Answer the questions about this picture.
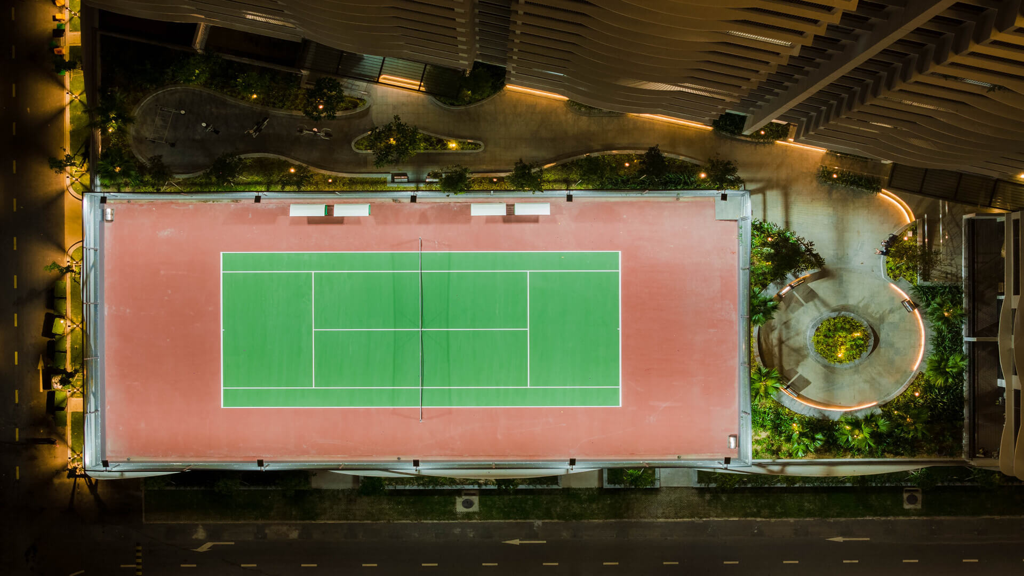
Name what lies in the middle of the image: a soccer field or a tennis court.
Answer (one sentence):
Looking in the middle of the image, you will find a tennis court.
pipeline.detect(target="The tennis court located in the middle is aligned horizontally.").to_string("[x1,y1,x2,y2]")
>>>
[100,196,743,464]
